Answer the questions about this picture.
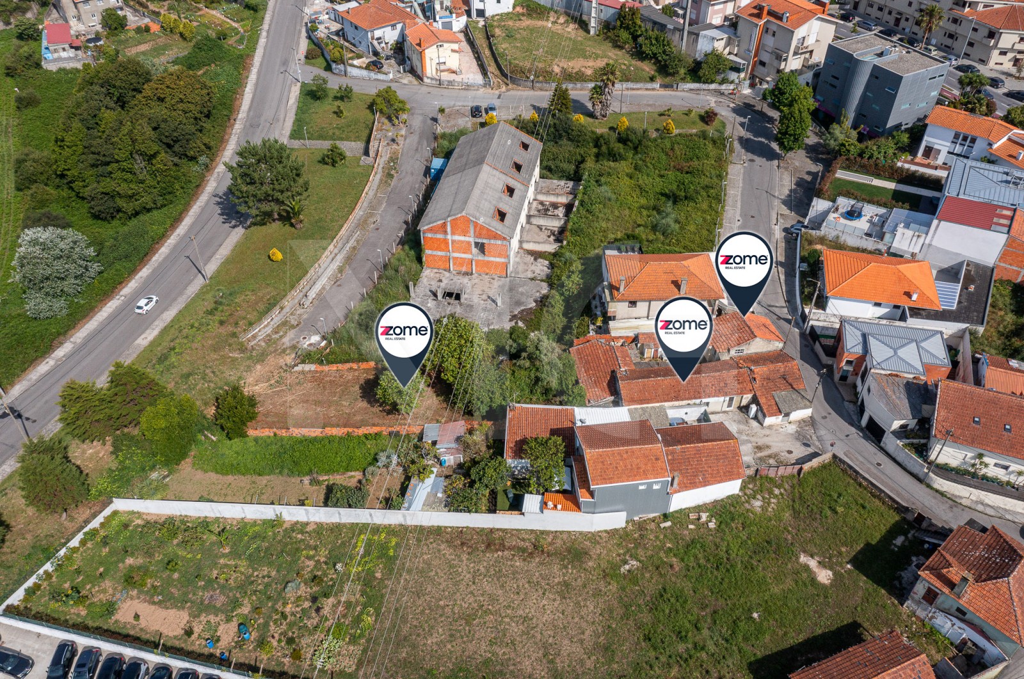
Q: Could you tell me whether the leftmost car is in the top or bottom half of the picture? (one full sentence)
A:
It is in the bottom half that the leftmost car appears.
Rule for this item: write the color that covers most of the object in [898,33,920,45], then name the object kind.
black vehicle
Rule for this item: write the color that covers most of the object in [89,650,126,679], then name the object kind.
black car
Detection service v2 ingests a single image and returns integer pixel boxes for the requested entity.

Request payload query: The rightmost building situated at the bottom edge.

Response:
[904,522,1024,675]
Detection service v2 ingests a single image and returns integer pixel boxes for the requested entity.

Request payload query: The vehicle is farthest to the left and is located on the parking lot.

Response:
[0,644,30,675]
